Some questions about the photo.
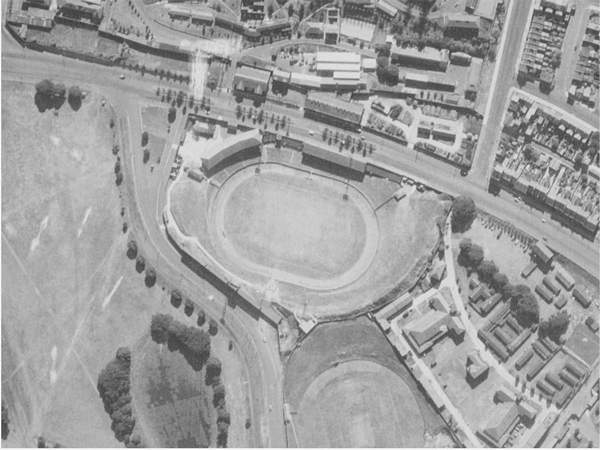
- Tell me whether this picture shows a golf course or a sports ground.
sports ground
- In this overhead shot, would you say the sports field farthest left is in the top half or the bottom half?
bottom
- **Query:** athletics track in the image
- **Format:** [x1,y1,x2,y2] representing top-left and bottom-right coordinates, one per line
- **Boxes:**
[209,165,379,290]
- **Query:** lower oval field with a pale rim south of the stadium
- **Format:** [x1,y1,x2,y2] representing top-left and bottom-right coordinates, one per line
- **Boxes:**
[285,316,463,450]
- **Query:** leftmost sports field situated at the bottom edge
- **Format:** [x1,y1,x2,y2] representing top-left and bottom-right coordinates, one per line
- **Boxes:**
[134,338,216,450]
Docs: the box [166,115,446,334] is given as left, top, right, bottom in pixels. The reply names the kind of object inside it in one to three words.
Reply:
stadium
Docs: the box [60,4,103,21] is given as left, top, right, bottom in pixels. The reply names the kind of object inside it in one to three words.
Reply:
building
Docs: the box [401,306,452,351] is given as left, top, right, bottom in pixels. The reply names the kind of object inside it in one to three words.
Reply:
building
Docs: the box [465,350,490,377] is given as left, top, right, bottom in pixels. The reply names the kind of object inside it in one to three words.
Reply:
house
